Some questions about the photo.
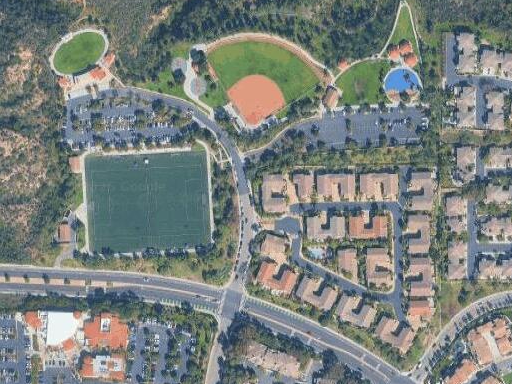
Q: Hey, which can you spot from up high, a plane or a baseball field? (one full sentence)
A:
The image shows a baseball field.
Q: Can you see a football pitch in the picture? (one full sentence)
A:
Yes, looking at the shot, I can spot a football pitch.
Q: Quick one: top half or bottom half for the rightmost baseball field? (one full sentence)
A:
The rightmost baseball field is in the top half of the image.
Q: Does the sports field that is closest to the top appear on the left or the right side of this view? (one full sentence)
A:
You can find the sports field that is closest to the top on the left side of the picture.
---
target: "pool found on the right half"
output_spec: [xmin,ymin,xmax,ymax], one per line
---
[306,244,326,259]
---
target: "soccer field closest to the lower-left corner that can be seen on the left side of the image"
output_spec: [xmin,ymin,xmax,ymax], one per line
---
[84,151,212,252]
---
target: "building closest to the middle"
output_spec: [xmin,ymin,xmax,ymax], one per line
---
[262,173,287,214]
